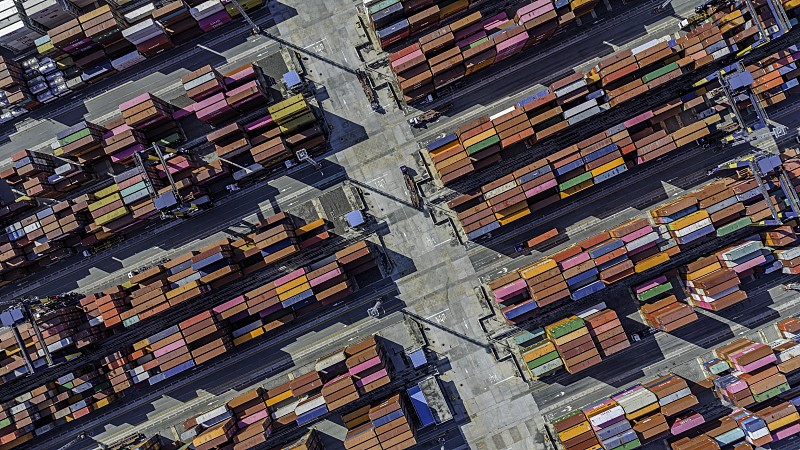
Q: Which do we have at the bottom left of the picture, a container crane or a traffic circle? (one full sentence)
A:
You can see a container crane at the bottom left of the picture.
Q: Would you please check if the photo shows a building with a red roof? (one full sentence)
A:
No, there appears to be no building with a red roof in this shot.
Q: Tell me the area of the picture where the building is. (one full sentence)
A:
You can find the building in the bottom area of the picture.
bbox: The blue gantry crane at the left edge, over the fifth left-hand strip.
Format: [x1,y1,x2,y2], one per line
[0,288,105,381]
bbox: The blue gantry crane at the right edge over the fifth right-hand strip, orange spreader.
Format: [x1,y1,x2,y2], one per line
[698,148,800,232]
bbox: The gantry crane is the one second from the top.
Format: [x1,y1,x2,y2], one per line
[672,58,776,149]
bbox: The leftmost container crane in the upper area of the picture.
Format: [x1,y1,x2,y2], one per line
[128,137,216,216]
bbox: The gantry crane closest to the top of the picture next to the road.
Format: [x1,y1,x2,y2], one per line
[690,0,798,70]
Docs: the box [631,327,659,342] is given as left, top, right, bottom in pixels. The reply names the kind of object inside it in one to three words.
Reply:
vehicle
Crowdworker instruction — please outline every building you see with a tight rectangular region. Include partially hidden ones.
[408,376,452,428]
